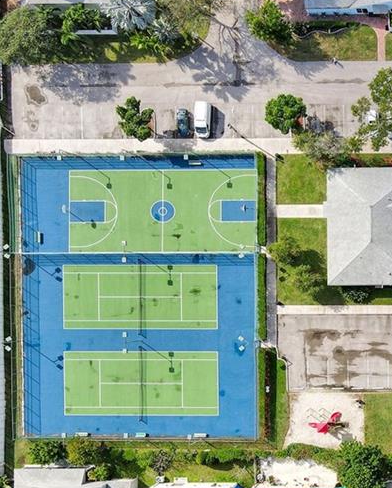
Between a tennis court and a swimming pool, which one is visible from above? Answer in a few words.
tennis court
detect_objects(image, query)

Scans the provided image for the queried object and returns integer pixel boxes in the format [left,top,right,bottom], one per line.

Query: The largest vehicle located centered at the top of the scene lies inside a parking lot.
[194,100,212,140]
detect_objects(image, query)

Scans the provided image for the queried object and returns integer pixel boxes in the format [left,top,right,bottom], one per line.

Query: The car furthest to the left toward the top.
[176,108,191,137]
